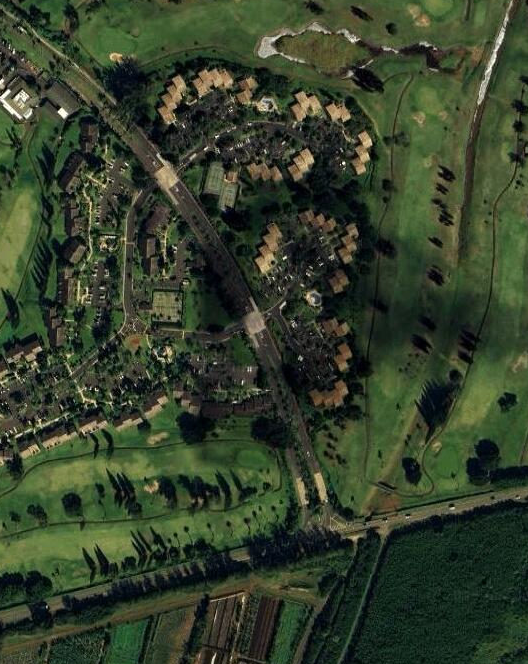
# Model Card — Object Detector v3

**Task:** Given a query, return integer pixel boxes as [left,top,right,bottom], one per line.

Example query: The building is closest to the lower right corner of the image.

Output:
[308,379,348,408]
